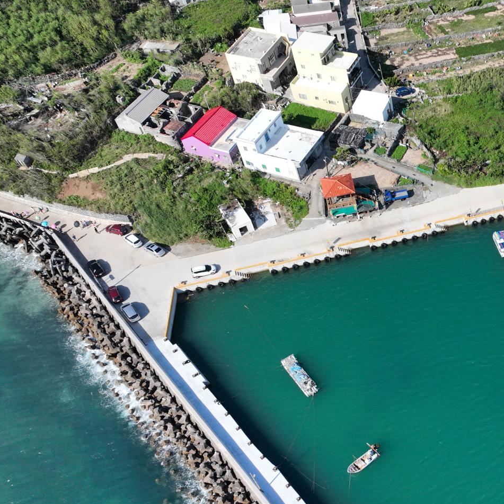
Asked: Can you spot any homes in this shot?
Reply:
Yes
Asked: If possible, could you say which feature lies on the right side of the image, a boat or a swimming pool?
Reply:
boat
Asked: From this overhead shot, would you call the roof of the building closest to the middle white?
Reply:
Yes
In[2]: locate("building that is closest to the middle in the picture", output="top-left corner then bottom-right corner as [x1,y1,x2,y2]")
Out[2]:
[218,200,260,247]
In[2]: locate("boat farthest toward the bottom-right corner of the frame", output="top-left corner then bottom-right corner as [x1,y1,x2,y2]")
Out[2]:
[348,439,381,471]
